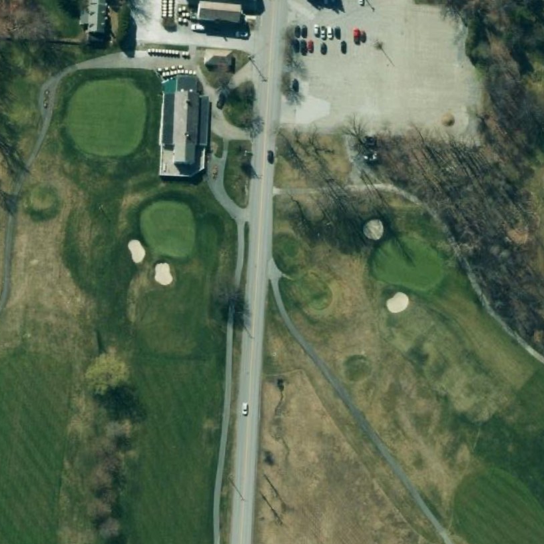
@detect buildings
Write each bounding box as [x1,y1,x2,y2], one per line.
[79,0,105,33]
[199,1,241,24]
[159,75,209,178]
[205,49,233,64]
